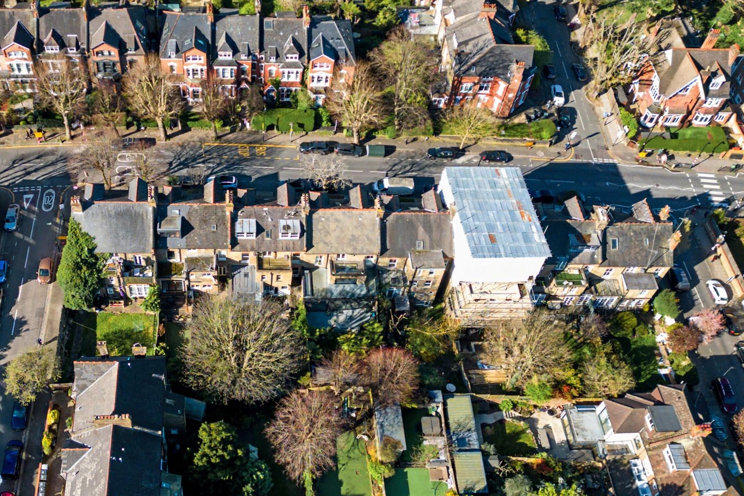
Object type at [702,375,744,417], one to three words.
car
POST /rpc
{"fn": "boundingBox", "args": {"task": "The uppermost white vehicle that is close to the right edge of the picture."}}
[701,278,736,307]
